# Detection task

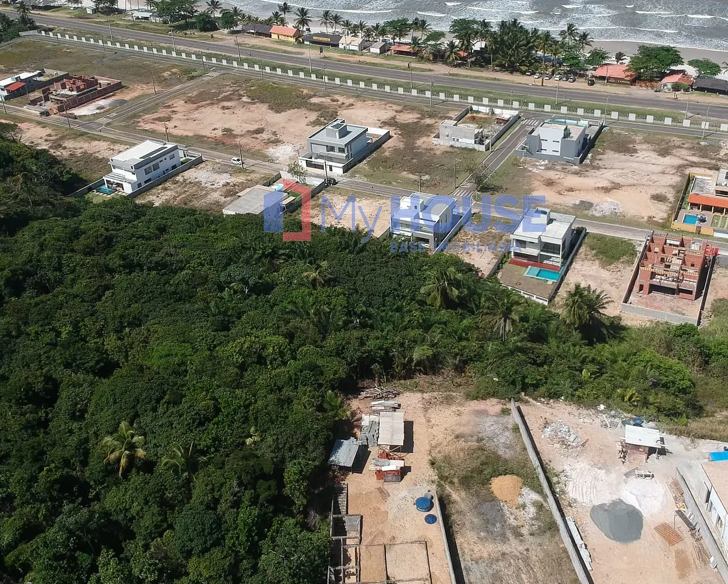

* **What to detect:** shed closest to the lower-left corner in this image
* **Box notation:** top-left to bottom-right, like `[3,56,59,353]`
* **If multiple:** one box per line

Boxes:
[330,439,359,477]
